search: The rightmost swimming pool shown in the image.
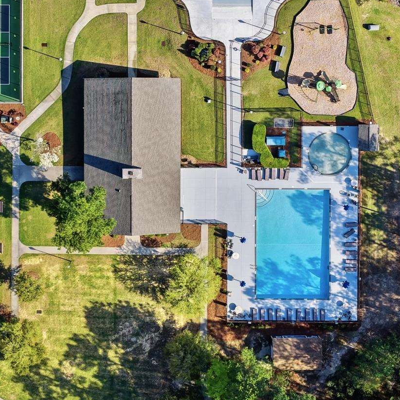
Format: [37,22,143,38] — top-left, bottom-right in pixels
[306,131,352,176]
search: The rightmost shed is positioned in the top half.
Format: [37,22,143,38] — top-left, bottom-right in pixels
[355,124,379,151]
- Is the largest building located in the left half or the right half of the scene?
left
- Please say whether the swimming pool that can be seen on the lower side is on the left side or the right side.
right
